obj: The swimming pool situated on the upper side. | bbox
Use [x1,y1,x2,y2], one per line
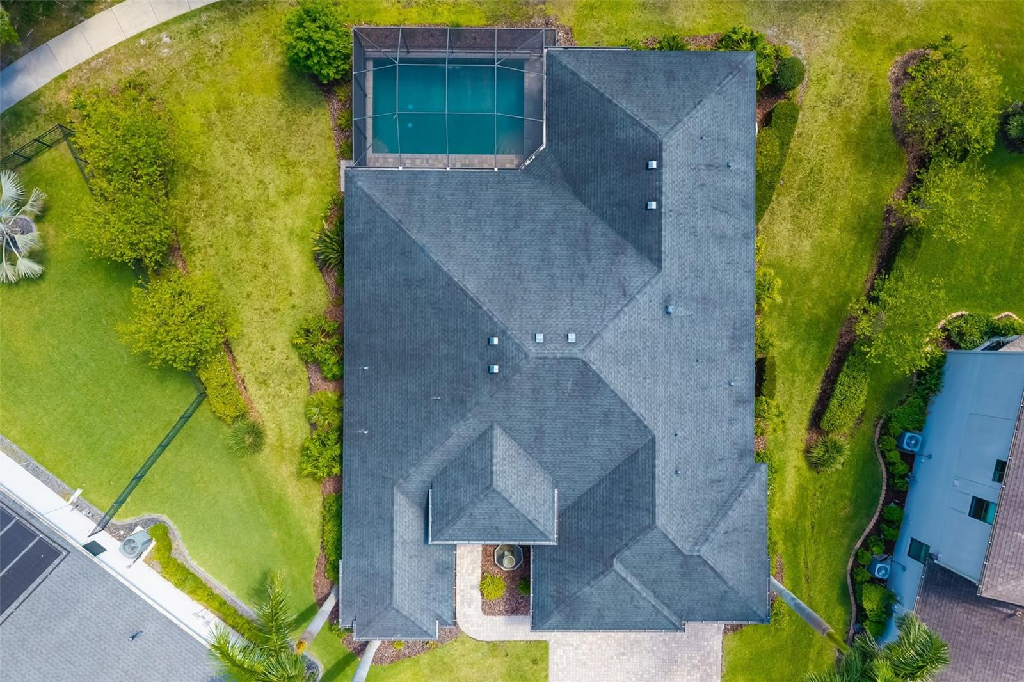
[373,60,525,154]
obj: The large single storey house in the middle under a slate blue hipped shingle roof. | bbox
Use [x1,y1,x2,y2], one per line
[340,47,771,646]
